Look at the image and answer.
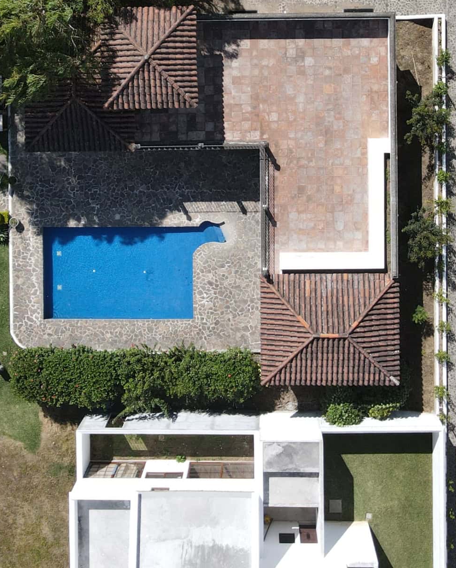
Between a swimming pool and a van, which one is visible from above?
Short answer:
swimming pool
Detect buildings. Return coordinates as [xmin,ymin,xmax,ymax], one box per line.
[133,8,396,277]
[68,411,325,568]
